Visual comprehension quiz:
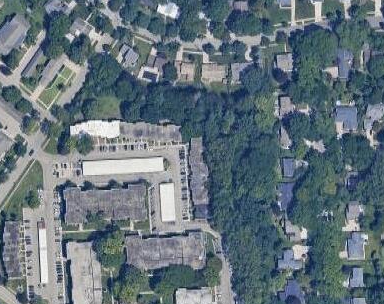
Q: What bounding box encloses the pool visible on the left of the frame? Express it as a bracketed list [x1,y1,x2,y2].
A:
[140,66,160,83]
